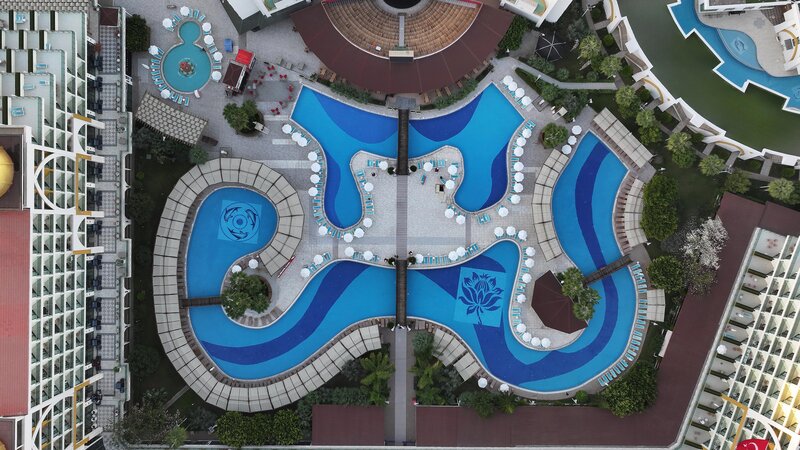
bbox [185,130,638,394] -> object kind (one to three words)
swimming pool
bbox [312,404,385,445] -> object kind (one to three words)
building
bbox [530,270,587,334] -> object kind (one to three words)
building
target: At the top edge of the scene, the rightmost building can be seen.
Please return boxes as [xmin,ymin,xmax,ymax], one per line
[760,5,800,71]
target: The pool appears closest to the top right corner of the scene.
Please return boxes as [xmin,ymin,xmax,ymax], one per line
[667,0,800,115]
